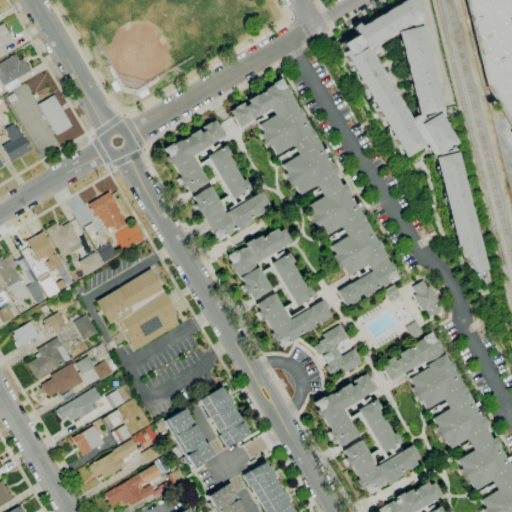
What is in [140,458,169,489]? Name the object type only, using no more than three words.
house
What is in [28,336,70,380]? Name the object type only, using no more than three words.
house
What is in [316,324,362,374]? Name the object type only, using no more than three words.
building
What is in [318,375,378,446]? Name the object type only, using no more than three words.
building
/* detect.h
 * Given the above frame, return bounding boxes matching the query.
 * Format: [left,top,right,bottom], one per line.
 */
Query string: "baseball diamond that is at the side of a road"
[108,20,172,94]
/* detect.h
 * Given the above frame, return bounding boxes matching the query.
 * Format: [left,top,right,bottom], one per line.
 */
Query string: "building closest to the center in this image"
[228,228,289,299]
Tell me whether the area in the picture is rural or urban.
urban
